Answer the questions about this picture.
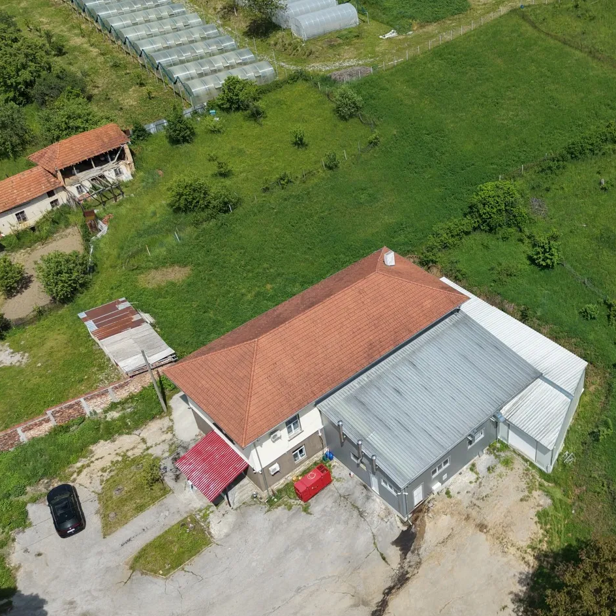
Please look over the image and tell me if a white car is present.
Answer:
No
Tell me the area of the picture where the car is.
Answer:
bottom left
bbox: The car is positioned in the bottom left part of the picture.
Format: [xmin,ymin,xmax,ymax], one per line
[45,485,88,543]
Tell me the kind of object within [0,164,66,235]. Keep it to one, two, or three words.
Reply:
house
